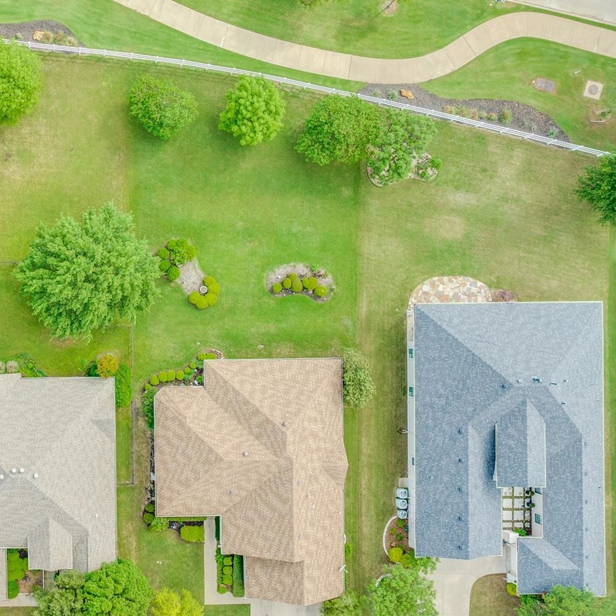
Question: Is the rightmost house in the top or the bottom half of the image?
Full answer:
It is in the bottom half that the rightmost house appears.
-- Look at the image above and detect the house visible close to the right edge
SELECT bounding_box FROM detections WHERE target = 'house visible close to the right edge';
[409,303,604,600]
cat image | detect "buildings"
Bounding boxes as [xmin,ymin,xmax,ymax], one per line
[154,358,348,608]
[409,303,604,600]
[0,373,117,603]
